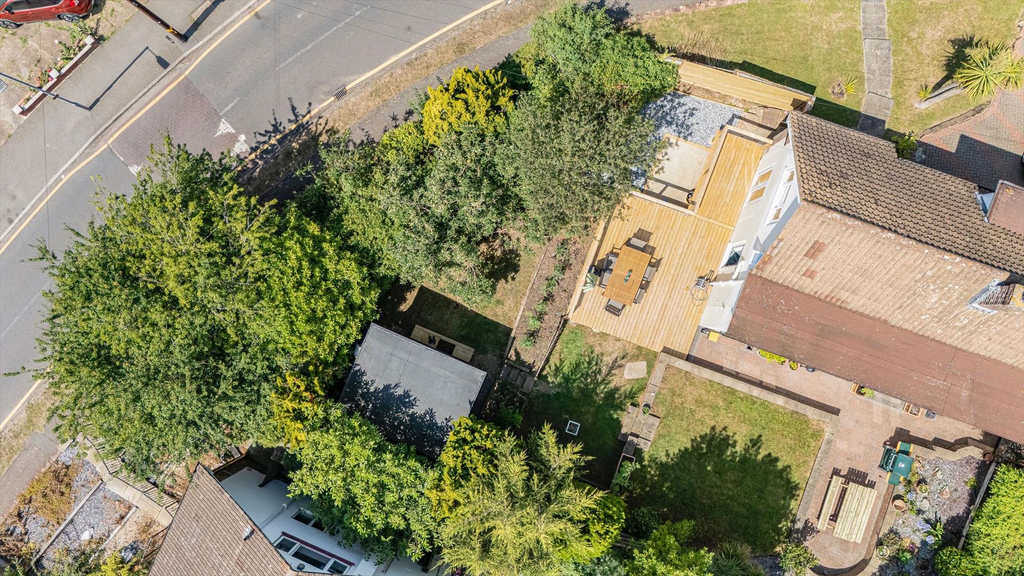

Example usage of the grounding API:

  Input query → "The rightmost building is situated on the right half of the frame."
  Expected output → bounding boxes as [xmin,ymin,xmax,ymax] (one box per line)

[695,108,1024,438]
